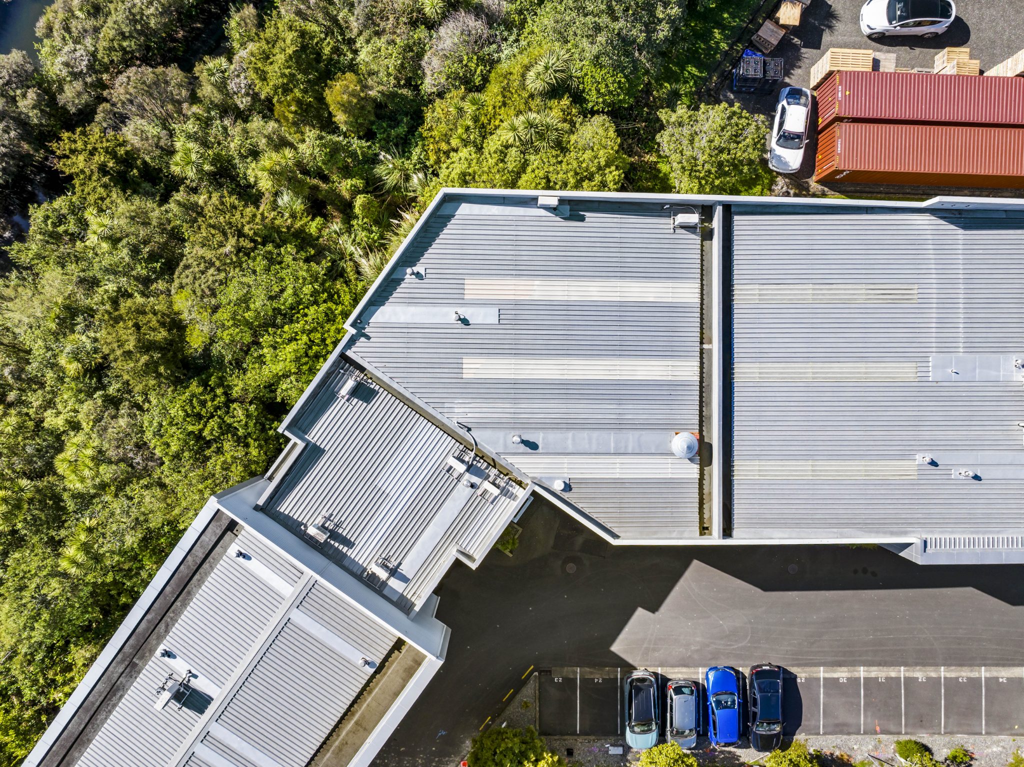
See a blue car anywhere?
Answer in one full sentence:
Yes, the image includes a blue car.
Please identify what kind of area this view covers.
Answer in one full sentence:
The picture captures an industrial area.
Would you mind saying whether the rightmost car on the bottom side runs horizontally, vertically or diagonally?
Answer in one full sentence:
From this overhead view, the rightmost car on the bottom side appears to run vertically.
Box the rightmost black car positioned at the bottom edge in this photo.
[746,661,789,749]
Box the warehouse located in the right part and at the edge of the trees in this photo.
[344,188,1024,565]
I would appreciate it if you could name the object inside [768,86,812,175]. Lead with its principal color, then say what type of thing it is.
white car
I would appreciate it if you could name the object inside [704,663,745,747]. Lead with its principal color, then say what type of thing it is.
blue car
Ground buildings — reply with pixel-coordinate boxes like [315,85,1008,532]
[21,477,460,767]
[344,188,1024,565]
